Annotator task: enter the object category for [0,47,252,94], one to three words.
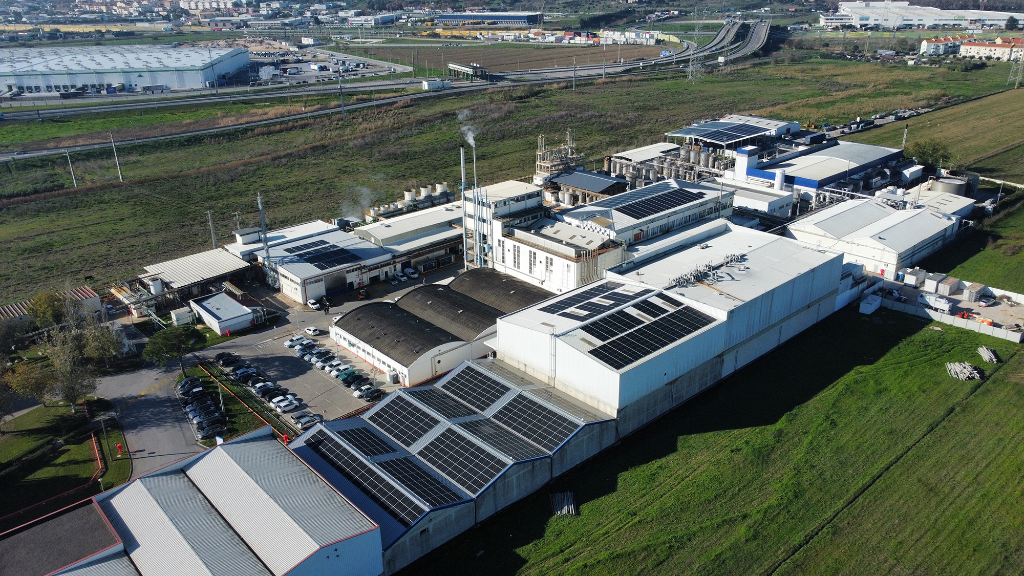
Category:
building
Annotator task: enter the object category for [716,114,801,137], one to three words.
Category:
building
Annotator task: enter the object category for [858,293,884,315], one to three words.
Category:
shed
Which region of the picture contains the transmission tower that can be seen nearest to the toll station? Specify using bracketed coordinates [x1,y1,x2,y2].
[532,3,547,47]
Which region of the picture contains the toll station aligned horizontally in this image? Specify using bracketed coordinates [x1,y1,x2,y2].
[447,62,490,81]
